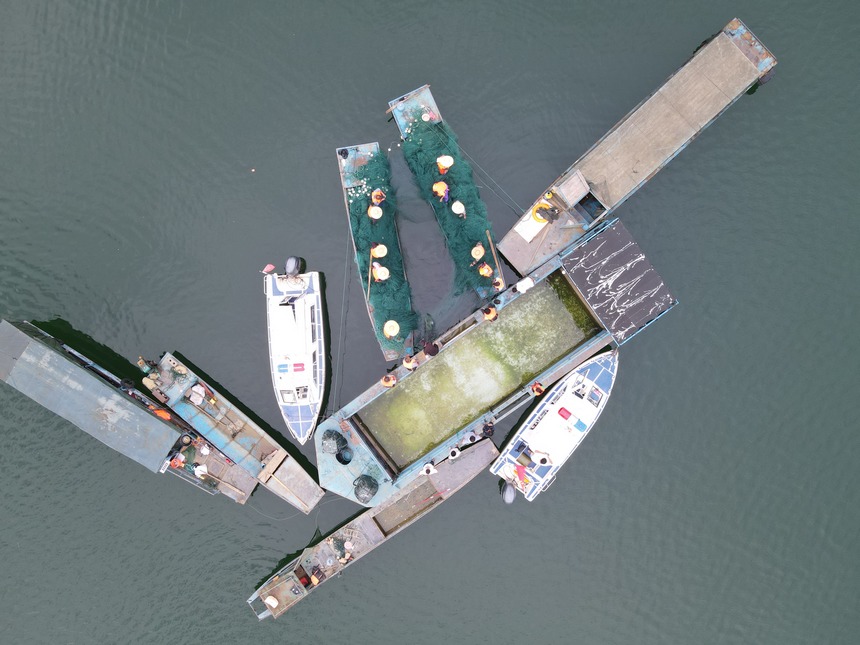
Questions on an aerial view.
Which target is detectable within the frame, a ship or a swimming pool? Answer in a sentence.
I can see a ship in this picture.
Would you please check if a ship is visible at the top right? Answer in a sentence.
Yes, a ship appears at the top right.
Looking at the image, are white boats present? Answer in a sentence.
Yes, the image includes a white boat.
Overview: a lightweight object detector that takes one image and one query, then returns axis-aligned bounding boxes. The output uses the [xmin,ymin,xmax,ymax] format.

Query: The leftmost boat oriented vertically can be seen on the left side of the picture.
[265,255,327,446]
